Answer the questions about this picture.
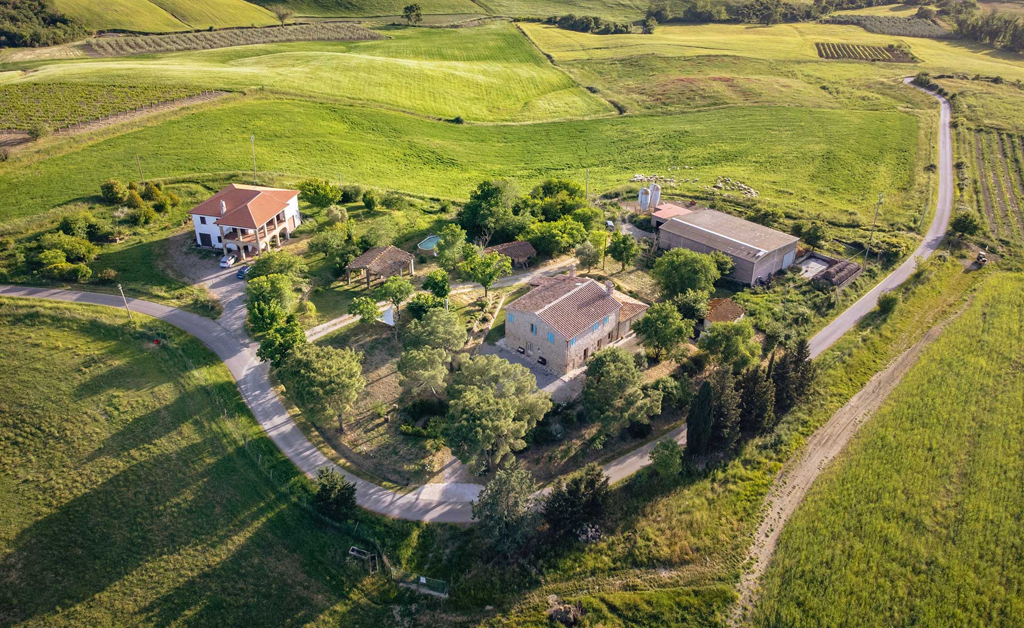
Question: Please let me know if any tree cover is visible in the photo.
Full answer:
Yes, the picture does contain tree cover.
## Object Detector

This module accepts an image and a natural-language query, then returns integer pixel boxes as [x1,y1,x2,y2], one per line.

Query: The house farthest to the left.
[187,184,302,259]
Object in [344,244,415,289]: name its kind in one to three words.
barn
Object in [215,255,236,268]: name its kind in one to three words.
vehicle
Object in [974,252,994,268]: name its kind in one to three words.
work vehicle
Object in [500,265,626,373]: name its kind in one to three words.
house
